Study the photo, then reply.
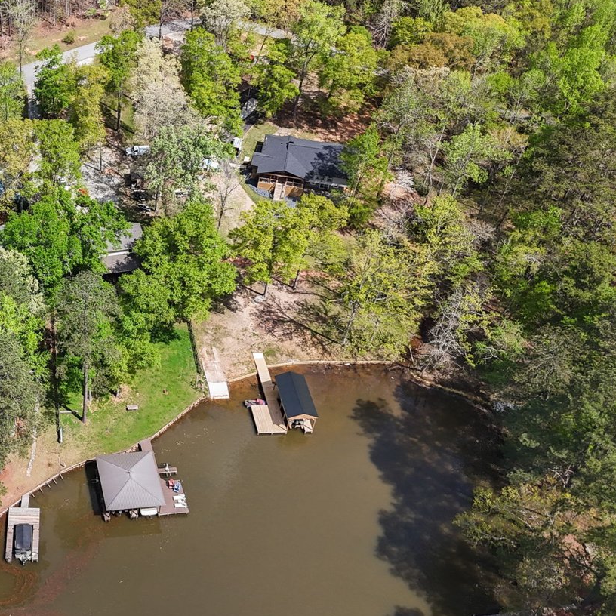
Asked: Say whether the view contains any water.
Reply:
Yes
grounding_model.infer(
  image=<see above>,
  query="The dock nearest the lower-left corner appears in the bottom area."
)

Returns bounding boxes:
[5,506,41,565]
